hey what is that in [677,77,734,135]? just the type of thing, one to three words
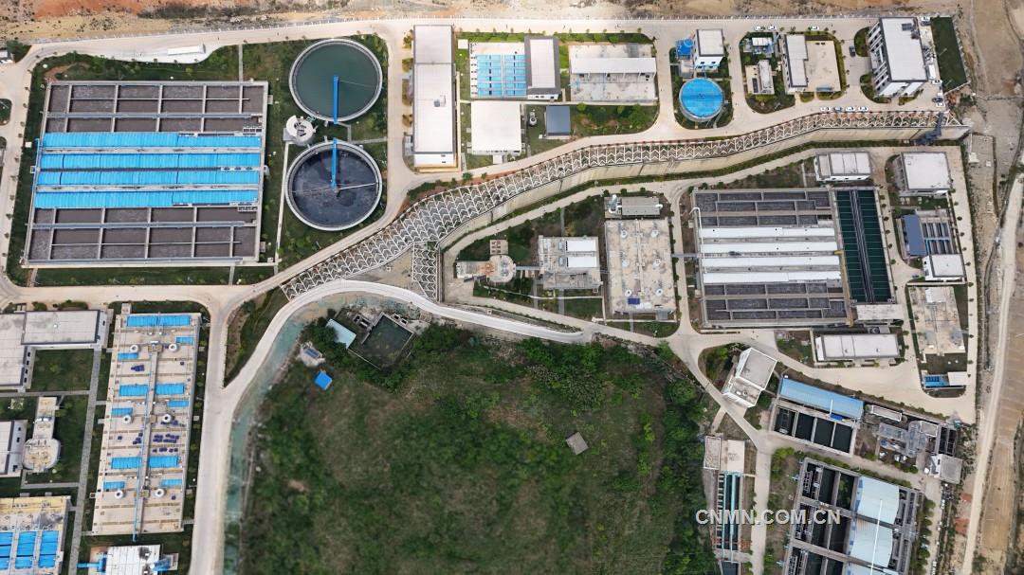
storage tank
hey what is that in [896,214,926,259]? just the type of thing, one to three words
house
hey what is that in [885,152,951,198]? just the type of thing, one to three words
building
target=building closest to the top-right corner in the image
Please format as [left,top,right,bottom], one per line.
[866,16,929,96]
